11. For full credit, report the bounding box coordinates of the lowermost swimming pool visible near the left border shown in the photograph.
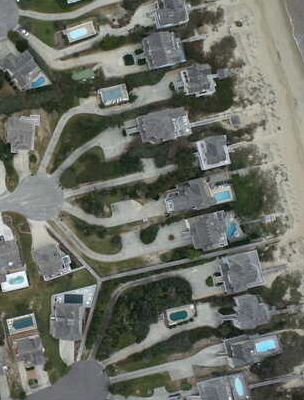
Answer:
[6,312,37,335]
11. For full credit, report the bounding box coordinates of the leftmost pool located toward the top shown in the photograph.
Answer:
[26,71,52,91]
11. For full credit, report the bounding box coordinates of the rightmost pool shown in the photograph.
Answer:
[254,336,277,353]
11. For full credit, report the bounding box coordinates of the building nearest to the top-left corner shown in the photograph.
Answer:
[0,50,42,91]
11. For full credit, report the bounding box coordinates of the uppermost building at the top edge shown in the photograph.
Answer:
[146,0,190,29]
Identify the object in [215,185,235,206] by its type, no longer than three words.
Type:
swimming pool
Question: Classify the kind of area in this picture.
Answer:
residential area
